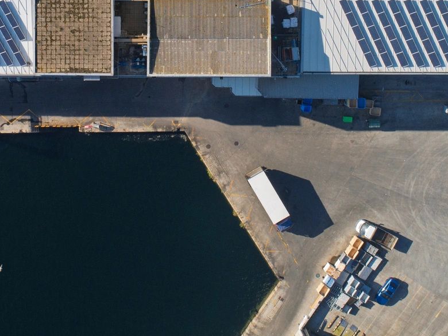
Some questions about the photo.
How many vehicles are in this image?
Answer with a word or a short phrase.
3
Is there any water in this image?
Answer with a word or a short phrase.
Yes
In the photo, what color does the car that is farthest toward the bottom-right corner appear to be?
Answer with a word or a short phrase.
blue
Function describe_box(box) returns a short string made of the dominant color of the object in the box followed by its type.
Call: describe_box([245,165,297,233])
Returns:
white truck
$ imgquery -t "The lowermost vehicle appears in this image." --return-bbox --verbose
[371,272,398,305]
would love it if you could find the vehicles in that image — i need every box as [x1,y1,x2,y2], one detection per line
[371,272,398,305]
[353,218,392,247]
[245,165,297,233]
